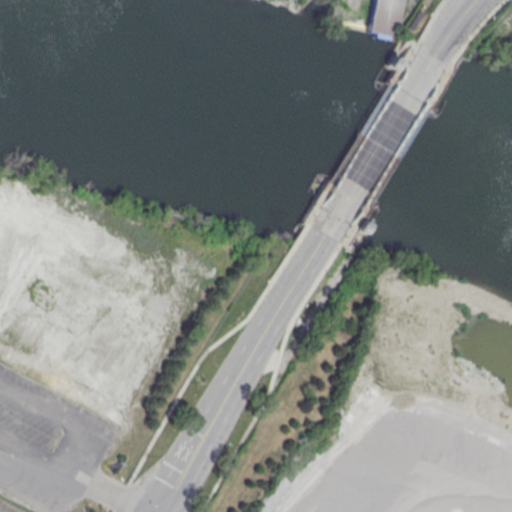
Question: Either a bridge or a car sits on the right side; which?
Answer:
bridge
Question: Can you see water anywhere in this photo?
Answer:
Yes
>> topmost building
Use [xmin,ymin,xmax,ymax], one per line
[366,0,403,45]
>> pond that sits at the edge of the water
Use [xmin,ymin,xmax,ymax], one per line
[453,318,512,409]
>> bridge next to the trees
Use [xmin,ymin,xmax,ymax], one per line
[290,40,469,247]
